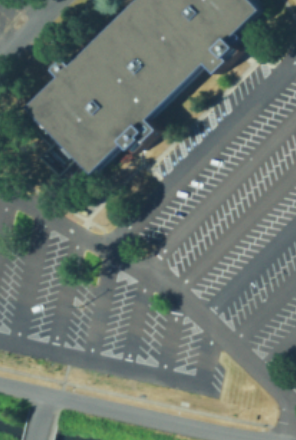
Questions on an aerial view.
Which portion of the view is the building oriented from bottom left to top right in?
top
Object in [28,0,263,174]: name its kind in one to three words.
building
